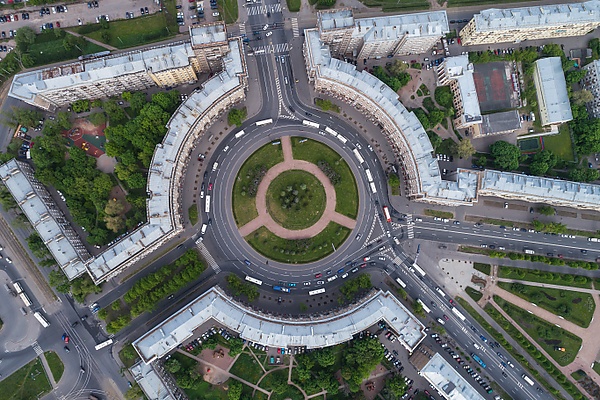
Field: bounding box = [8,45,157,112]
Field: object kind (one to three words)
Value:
building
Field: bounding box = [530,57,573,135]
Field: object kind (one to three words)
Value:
building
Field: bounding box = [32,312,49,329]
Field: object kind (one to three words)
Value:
vehicle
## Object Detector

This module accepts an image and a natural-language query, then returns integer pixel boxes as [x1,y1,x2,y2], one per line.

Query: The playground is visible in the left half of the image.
[63,118,106,158]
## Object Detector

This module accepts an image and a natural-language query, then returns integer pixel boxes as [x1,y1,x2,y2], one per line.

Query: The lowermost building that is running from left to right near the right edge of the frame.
[478,169,600,211]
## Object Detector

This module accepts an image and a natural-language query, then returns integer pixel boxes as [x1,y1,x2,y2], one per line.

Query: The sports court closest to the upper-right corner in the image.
[473,61,519,110]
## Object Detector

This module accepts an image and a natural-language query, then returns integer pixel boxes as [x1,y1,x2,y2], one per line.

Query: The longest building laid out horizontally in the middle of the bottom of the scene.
[129,288,428,364]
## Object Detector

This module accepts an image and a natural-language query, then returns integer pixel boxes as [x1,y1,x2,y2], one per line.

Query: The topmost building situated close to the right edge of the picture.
[461,0,600,45]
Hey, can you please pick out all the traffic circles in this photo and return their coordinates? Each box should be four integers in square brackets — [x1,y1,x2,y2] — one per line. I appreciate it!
[224,131,365,271]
